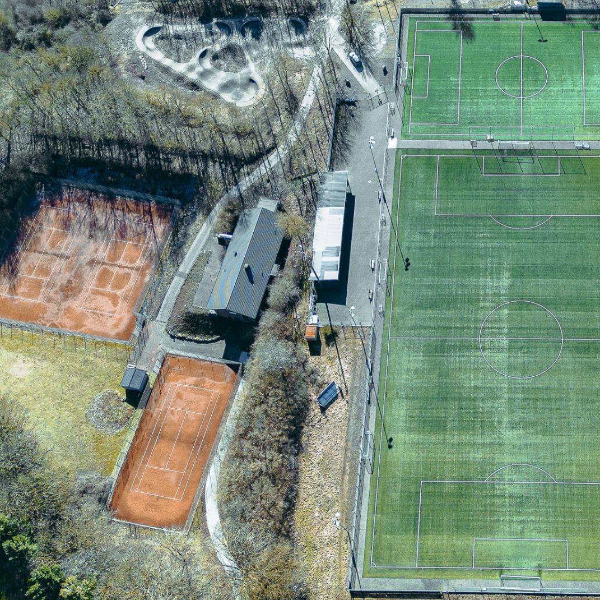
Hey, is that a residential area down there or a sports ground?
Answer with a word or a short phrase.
sports ground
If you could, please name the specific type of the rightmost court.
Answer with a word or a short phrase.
tennis court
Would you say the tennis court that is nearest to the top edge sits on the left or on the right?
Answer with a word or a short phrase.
left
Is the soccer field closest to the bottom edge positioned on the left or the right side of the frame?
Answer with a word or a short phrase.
right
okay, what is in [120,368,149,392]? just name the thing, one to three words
shed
